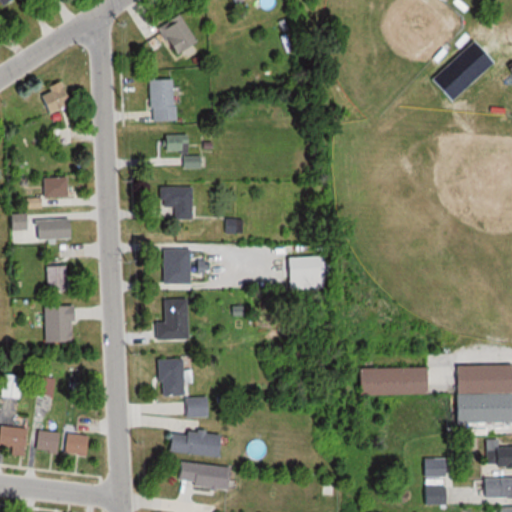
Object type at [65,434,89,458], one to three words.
house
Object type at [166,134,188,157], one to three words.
house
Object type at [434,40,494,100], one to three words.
barn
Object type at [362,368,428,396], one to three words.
building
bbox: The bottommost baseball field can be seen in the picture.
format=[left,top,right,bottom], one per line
[334,108,512,340]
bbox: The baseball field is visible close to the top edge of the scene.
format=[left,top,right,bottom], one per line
[332,0,469,117]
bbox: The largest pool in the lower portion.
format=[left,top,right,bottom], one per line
[246,440,268,460]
